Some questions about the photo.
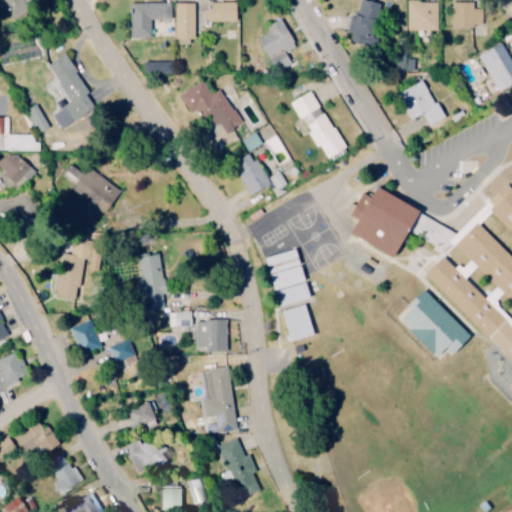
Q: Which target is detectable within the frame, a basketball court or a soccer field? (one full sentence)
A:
The image shows a basketball court.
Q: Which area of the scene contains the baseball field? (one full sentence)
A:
You can find the baseball field in the bottom right area of the picture.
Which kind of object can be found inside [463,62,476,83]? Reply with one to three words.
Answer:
swimming pool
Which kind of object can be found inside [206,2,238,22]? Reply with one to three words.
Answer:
house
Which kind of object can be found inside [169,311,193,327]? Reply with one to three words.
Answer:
building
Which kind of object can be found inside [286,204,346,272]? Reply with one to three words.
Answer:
basketball court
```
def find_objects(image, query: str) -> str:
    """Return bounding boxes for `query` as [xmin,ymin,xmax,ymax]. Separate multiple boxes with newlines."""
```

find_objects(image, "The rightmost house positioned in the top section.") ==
[478,40,512,94]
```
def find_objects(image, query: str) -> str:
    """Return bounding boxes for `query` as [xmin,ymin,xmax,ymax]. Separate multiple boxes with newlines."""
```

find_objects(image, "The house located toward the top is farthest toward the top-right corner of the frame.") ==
[454,1,486,30]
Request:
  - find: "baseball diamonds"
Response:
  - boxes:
[356,476,418,512]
